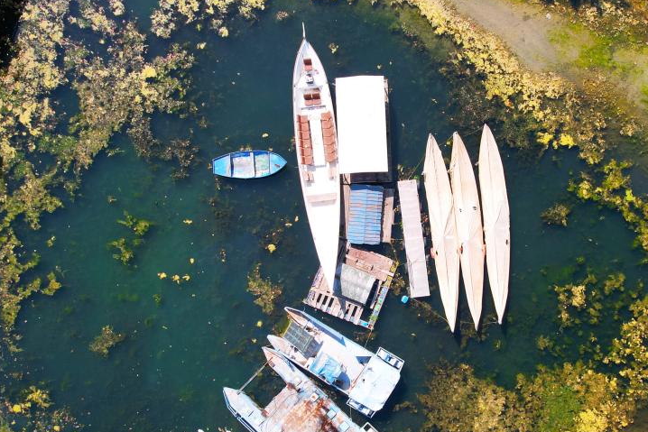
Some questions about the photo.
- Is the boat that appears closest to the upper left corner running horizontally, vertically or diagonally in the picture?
horizontally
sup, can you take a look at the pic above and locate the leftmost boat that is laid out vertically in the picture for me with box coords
[292,24,340,291]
